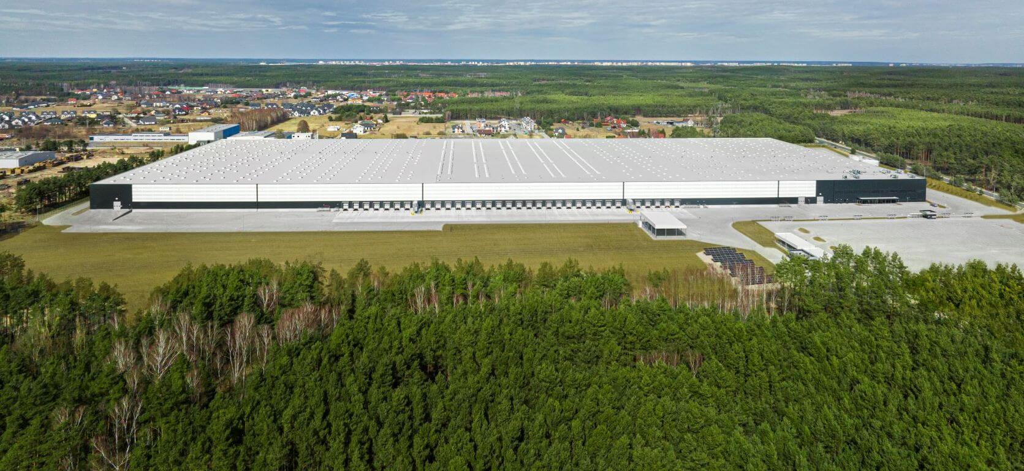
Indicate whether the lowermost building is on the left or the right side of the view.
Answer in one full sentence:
The lowermost building sits on the right side.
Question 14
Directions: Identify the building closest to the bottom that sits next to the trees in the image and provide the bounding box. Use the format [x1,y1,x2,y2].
[773,232,833,264]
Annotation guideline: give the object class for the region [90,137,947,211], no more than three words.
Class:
building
